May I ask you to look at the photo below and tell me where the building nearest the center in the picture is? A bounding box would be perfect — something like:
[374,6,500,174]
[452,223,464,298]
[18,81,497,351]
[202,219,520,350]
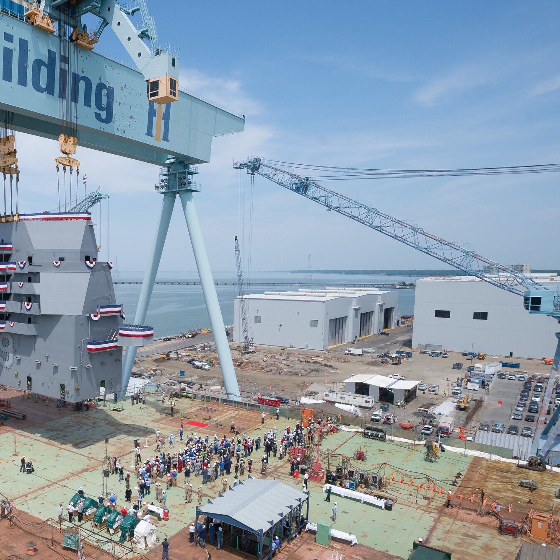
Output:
[232,286,397,350]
